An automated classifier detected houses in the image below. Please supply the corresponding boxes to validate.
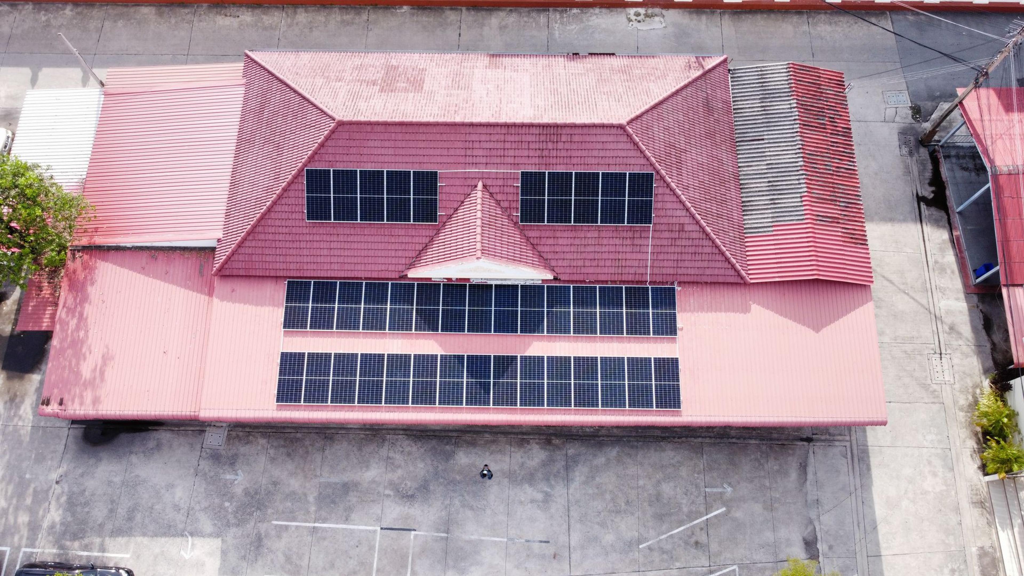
[209,46,753,295]
[936,88,1024,372]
